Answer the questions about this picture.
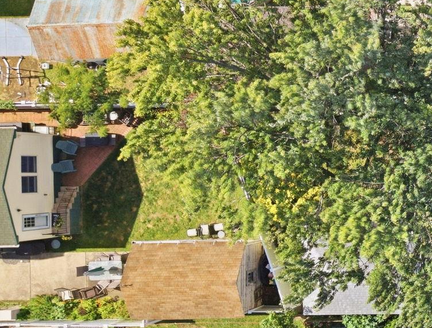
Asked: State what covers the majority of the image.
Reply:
trees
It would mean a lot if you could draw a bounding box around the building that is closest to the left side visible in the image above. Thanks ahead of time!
[0,127,84,247]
